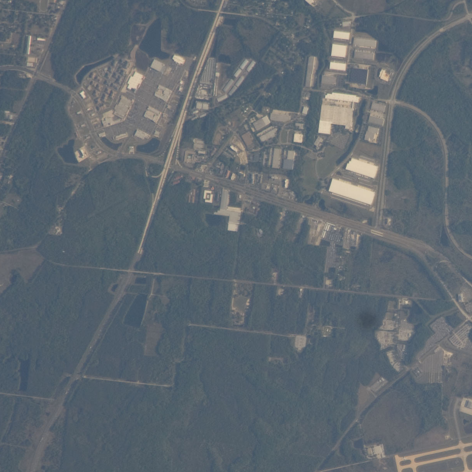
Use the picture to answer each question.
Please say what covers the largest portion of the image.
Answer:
trees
